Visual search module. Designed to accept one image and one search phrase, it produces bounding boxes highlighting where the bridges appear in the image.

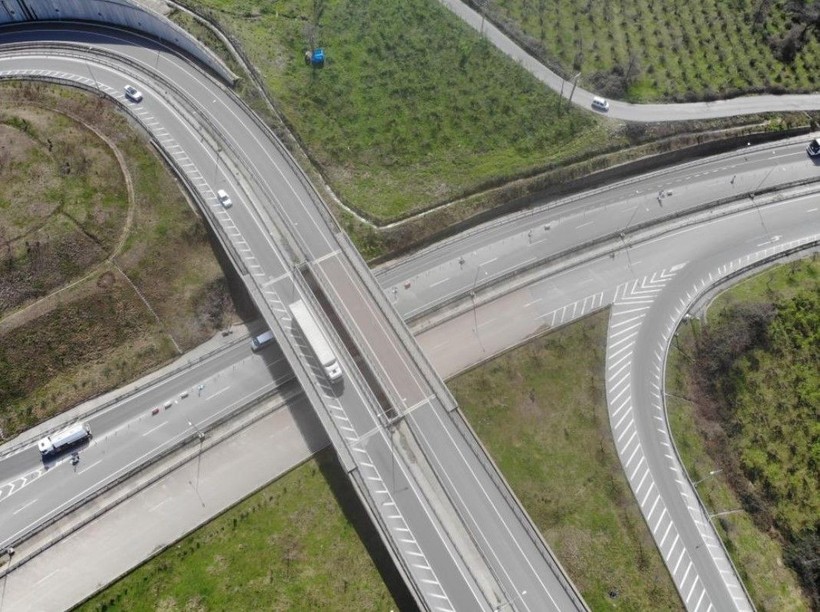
[233,220,458,472]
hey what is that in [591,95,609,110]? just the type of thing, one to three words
car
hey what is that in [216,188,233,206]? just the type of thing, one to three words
car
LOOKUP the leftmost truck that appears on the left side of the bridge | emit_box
[34,427,98,463]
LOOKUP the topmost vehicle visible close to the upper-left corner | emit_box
[123,85,142,99]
